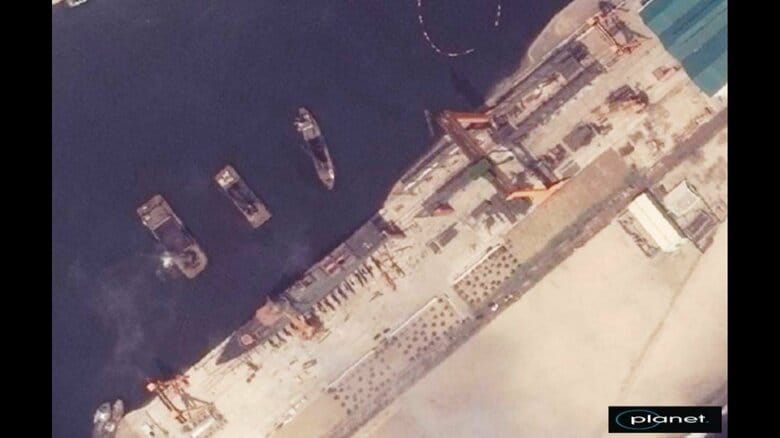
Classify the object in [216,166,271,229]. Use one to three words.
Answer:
ship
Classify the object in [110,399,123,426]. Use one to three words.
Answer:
boat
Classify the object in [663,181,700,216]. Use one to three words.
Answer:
building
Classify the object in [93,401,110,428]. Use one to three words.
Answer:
boat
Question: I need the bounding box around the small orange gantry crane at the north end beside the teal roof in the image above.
[593,8,650,55]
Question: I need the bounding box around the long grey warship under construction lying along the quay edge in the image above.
[214,220,391,363]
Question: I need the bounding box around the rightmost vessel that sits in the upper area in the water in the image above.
[294,106,334,190]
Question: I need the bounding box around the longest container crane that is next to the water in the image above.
[437,109,570,209]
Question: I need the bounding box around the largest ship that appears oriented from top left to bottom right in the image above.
[139,193,206,273]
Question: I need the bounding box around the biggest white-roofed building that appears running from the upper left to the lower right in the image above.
[628,193,686,251]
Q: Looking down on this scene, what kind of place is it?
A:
port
